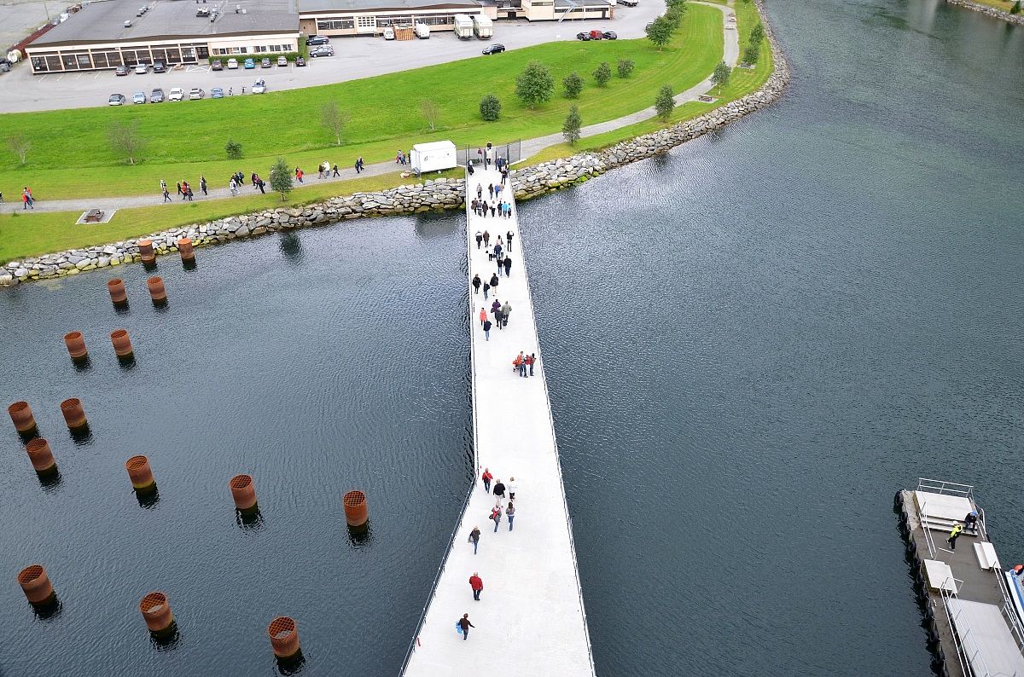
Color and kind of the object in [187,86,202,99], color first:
white vehicle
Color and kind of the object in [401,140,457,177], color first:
white trailer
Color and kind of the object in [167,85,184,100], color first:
white car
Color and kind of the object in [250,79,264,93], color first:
white car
